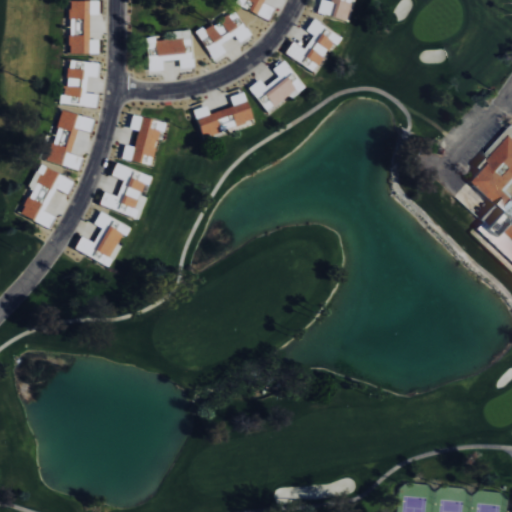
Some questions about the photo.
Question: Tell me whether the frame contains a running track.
No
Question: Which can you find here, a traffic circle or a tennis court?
tennis court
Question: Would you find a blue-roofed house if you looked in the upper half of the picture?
No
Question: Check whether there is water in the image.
Yes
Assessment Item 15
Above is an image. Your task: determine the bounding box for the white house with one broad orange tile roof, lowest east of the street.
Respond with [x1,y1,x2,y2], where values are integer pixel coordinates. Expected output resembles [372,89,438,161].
[74,212,132,267]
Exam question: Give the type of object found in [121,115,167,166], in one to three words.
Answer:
house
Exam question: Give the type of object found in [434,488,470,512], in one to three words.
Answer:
tennis court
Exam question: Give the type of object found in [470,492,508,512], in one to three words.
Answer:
tennis court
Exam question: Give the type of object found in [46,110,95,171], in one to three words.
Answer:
house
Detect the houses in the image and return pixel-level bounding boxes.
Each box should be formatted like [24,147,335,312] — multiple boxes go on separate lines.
[194,12,252,63]
[46,110,95,171]
[248,60,306,115]
[58,60,100,108]
[20,164,74,229]
[121,115,167,166]
[317,0,354,22]
[74,212,132,267]
[284,18,343,74]
[192,92,254,137]
[99,163,153,220]
[146,30,195,75]
[68,0,101,55]
[236,0,276,21]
